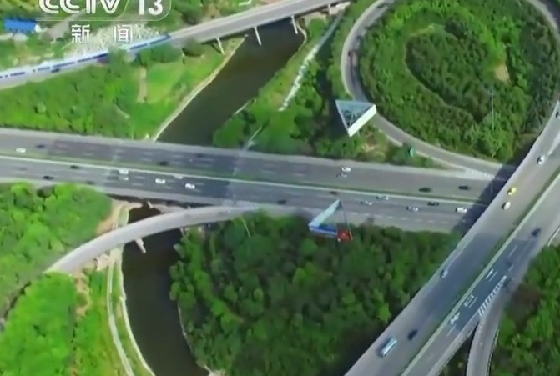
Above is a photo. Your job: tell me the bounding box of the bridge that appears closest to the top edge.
[142,0,333,53]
